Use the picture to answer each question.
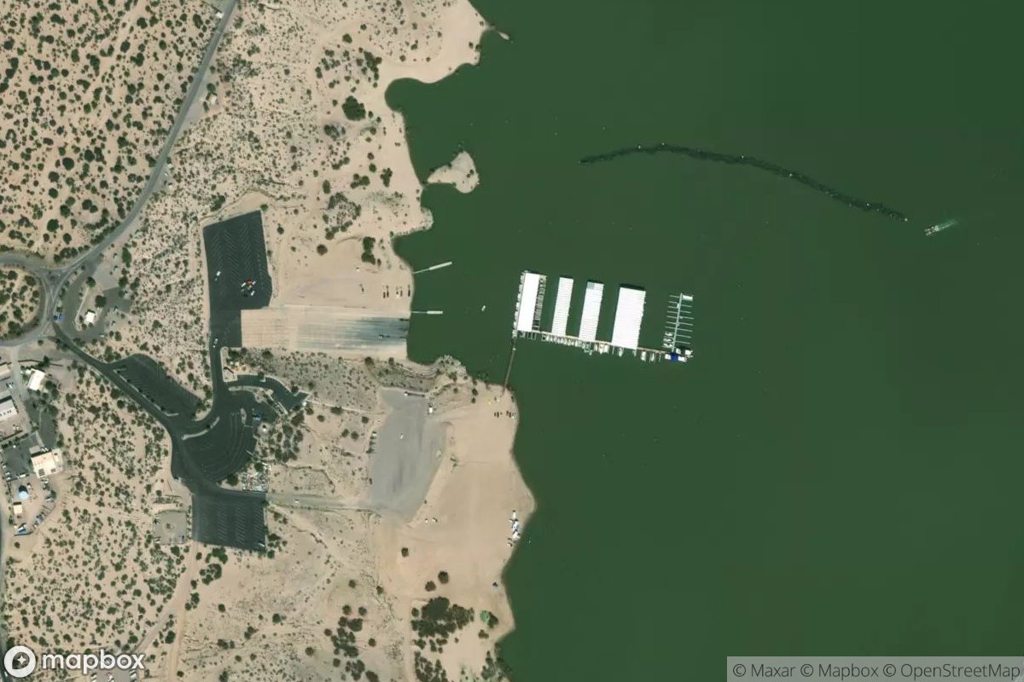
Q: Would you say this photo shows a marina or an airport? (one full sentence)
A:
This looks like a marina.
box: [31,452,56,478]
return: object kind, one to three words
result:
building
